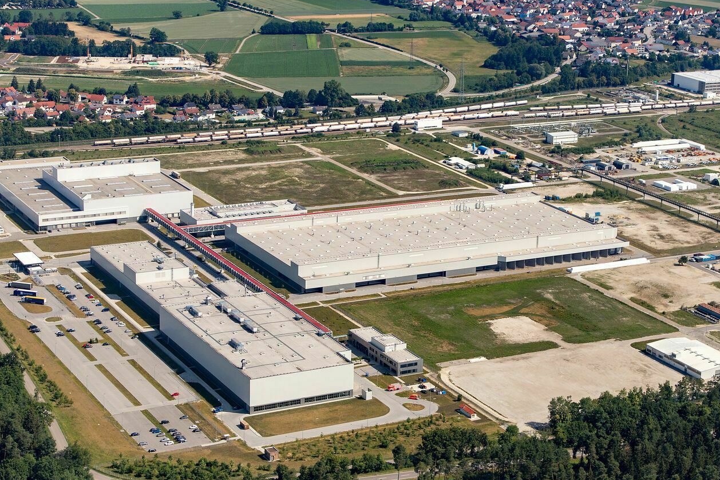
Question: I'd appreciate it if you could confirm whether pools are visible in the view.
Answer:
No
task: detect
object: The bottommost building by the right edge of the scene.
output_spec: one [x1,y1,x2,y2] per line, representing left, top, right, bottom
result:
[631,331,720,379]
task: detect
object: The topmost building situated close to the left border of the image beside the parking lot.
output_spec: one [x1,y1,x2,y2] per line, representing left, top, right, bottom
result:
[0,158,192,231]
